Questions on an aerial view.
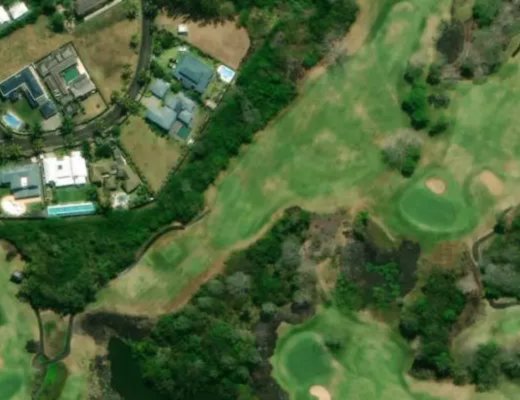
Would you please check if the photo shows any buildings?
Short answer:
Yes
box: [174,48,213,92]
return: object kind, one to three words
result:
house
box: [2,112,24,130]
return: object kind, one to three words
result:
swimming pool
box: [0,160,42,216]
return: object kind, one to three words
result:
house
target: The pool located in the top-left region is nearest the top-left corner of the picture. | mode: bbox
[61,67,80,84]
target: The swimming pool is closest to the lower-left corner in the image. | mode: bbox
[48,201,95,216]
